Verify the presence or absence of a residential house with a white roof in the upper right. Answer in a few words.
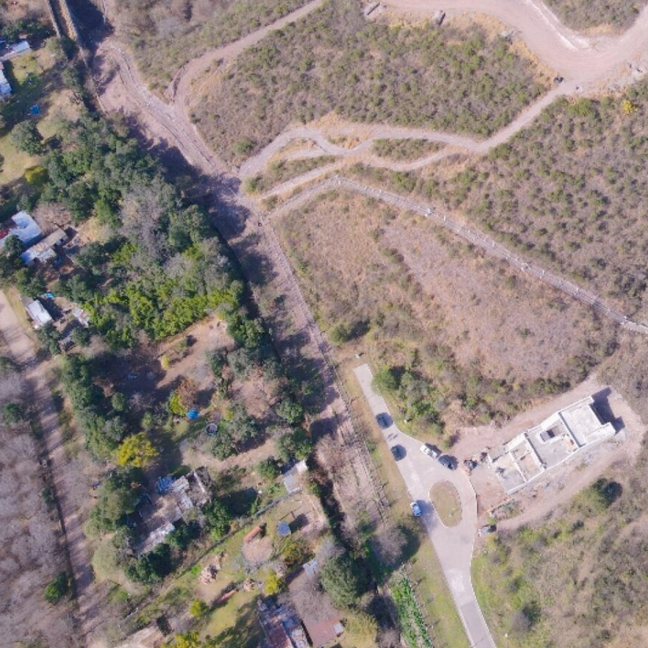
No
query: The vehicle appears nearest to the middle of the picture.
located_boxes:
[375,410,388,429]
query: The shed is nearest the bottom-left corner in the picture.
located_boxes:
[138,520,178,548]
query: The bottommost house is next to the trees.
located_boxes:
[259,600,310,648]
